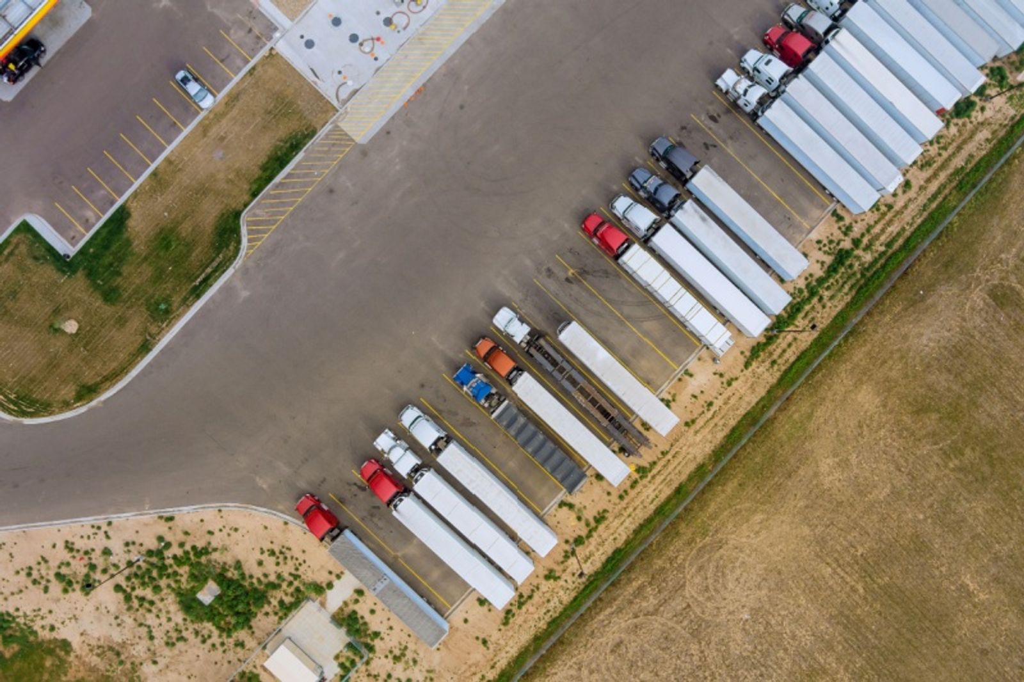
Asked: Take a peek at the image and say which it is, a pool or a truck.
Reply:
truck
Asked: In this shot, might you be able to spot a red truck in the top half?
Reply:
Yes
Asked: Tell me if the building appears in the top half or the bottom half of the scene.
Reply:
bottom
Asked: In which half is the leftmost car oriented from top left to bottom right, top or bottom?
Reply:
top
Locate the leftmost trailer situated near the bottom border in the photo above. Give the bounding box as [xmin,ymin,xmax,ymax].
[328,527,450,649]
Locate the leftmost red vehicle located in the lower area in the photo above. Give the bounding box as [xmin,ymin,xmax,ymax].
[298,493,365,540]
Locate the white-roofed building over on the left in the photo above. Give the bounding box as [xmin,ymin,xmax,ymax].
[265,635,335,682]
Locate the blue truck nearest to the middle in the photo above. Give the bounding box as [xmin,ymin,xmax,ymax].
[454,364,514,413]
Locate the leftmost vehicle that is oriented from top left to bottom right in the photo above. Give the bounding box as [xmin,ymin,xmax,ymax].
[176,68,213,108]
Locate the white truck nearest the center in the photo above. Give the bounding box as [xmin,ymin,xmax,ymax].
[493,307,549,362]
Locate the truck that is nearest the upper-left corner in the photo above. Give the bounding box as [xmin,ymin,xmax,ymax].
[0,45,48,87]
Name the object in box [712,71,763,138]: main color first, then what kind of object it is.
white truck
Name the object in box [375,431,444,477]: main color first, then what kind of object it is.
white truck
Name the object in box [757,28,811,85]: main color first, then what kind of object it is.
red truck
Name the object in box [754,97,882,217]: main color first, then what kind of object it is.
white trailer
